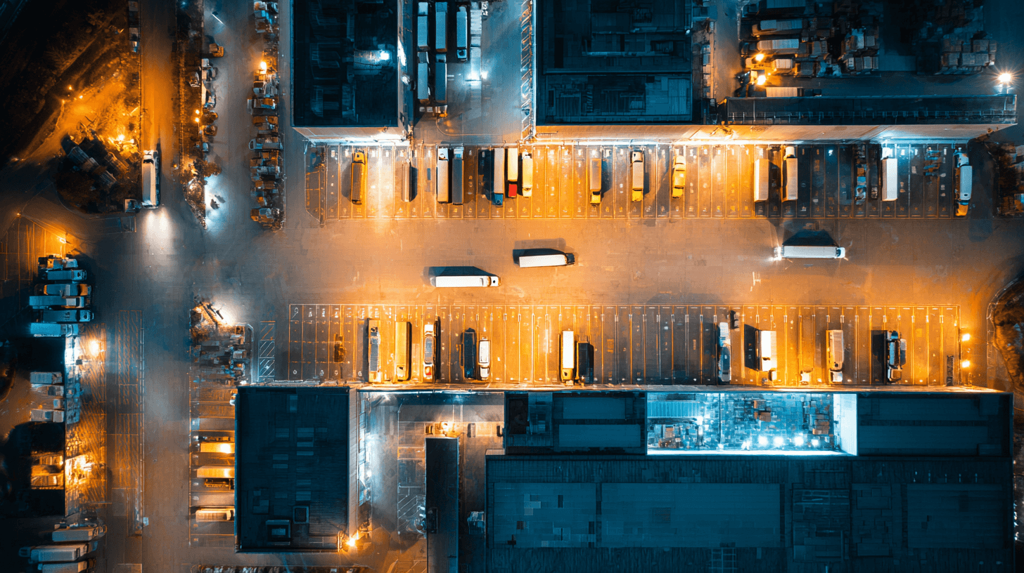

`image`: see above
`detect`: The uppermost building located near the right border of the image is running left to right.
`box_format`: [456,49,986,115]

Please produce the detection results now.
[681,96,1016,145]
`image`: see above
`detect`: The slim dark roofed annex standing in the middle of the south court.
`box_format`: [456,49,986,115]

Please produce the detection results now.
[426,433,460,573]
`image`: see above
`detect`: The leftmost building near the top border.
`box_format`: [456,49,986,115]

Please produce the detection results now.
[292,0,407,145]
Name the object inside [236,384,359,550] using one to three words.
warehouse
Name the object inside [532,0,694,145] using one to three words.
warehouse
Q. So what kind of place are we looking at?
industrial area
